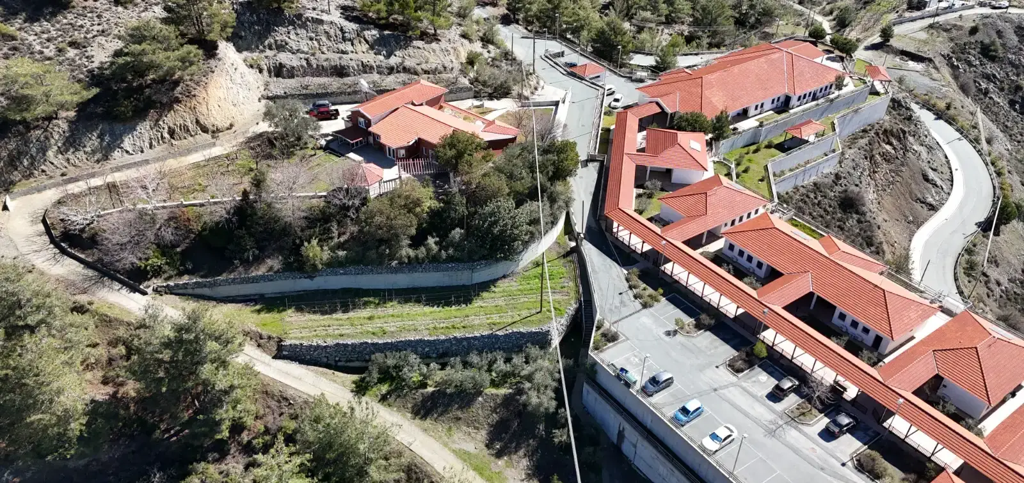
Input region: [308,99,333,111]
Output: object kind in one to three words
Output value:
vehicle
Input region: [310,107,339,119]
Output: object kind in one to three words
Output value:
vehicle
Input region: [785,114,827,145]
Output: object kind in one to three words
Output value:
building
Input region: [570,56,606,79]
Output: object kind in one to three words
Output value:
building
